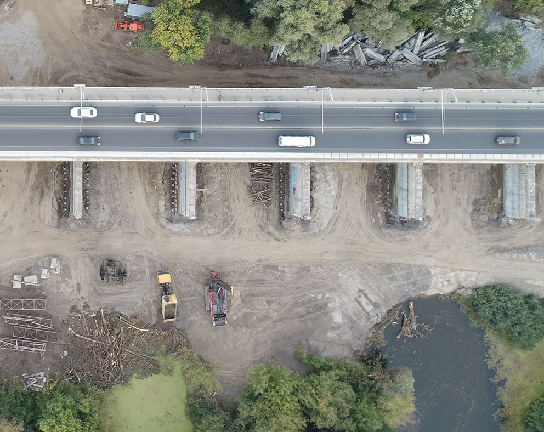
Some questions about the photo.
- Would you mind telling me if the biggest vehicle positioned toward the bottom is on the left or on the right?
left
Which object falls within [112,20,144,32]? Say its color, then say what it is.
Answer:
red vehicle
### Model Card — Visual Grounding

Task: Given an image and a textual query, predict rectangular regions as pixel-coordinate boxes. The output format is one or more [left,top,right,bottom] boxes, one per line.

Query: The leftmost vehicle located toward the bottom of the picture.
[102,261,128,283]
